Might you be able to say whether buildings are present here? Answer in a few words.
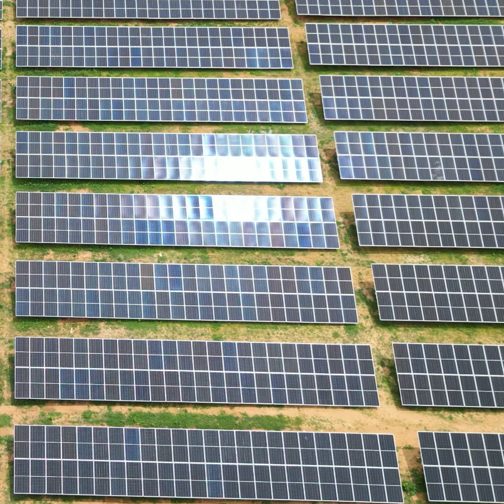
No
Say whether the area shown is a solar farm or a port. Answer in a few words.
solar farm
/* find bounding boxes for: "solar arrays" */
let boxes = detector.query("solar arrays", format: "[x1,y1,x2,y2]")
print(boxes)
[13,425,403,503]
[393,343,504,406]
[14,337,380,406]
[418,432,504,502]
[16,0,281,19]
[352,194,504,246]
[372,264,504,321]
[15,75,308,122]
[15,26,294,69]
[334,131,504,179]
[15,131,323,182]
[319,75,504,121]
[305,23,504,66]
[15,260,358,323]
[15,192,339,249]
[296,0,504,16]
